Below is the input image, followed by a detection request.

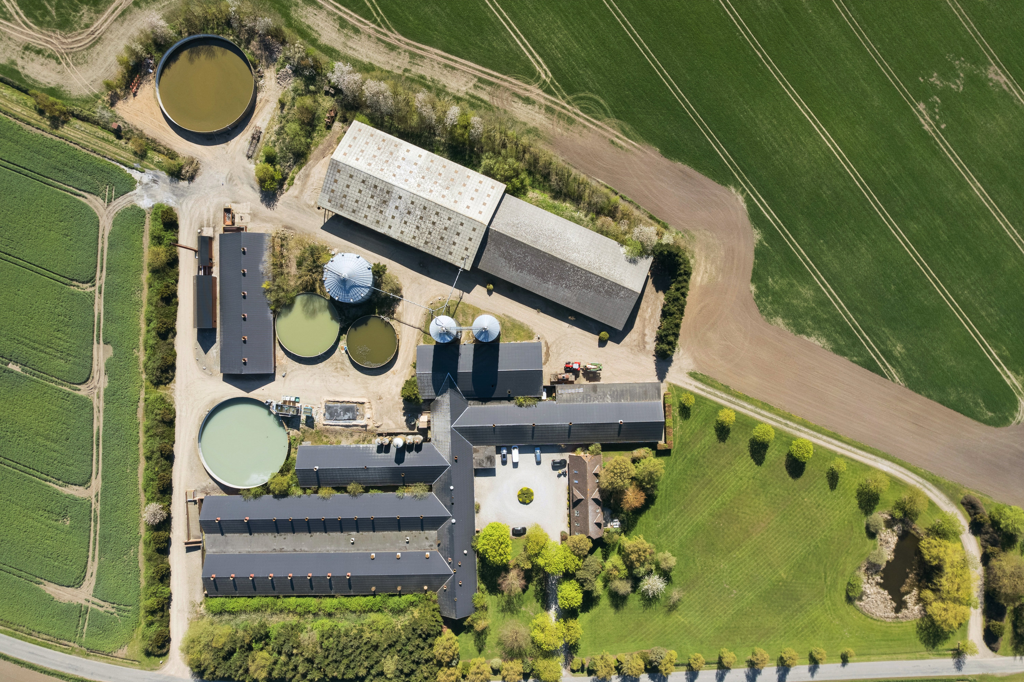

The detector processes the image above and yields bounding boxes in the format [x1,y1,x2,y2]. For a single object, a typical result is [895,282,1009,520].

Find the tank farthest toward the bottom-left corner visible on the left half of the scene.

[198,397,292,488]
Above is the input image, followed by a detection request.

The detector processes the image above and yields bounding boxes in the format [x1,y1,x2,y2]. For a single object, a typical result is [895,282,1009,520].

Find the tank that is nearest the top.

[155,33,257,135]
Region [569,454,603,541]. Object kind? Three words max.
house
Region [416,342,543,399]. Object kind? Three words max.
barn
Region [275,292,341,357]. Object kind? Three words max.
storage tank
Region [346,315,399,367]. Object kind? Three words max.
storage tank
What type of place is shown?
industrial area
